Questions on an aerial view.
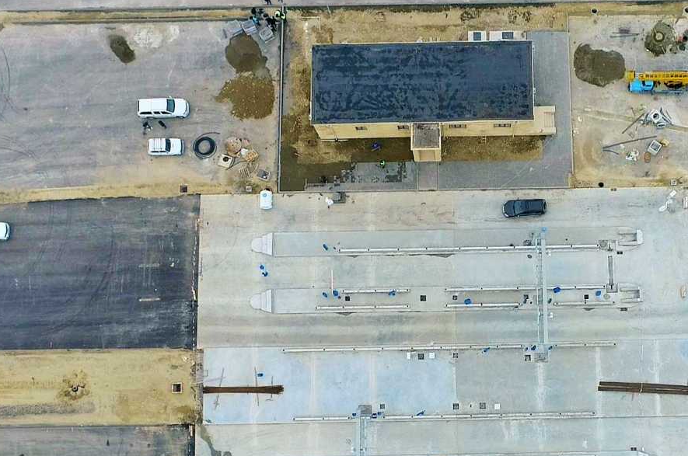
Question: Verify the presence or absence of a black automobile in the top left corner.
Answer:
No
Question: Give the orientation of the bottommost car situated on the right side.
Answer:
horizontally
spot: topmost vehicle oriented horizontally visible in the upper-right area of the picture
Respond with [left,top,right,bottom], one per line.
[625,69,688,99]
